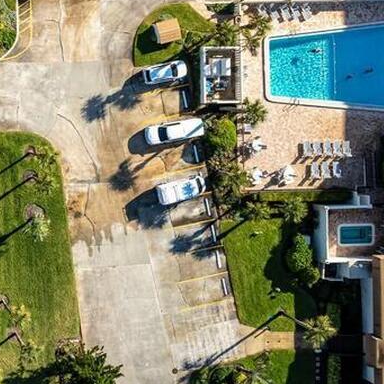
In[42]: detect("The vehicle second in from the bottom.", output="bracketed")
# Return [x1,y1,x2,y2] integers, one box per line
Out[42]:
[142,118,205,145]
